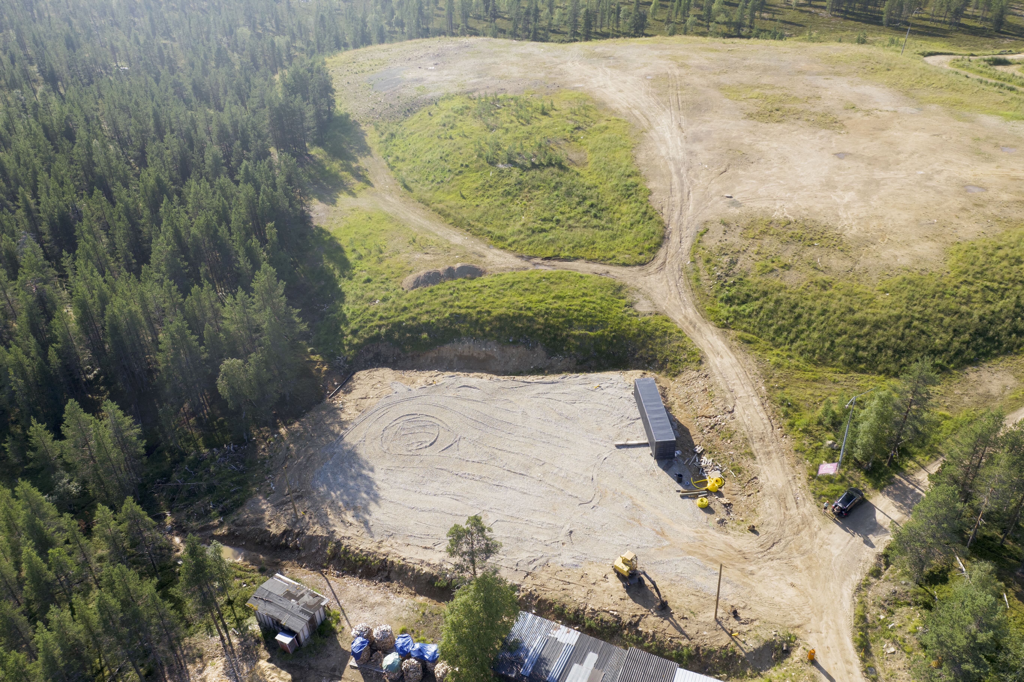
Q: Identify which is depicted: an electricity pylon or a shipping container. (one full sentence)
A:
There is a shipping container in the scene.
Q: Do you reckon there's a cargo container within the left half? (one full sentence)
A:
No, no cargo container appears within the left half.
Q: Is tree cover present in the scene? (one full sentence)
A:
Yes, the picture does contain tree cover.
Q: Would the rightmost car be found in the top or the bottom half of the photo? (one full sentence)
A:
Seen from above, the rightmost car lies in the bottom half of the view.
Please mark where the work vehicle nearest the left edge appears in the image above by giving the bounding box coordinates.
[612,549,670,605]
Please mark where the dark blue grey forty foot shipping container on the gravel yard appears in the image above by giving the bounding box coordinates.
[634,377,677,458]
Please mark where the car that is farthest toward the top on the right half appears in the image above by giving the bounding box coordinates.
[827,488,865,521]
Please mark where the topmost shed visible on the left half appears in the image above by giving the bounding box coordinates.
[244,575,330,645]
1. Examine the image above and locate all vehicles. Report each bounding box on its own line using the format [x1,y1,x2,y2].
[612,549,670,605]
[827,488,865,521]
